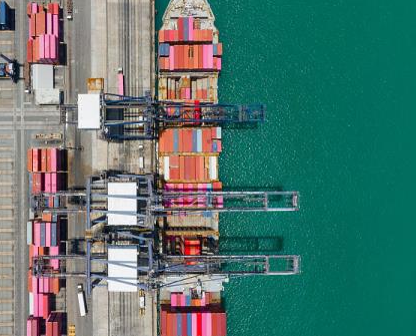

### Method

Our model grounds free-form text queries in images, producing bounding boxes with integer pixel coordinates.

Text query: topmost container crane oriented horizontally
[59,91,265,147]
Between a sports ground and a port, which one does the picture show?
port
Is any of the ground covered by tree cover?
No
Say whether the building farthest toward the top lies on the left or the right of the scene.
left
